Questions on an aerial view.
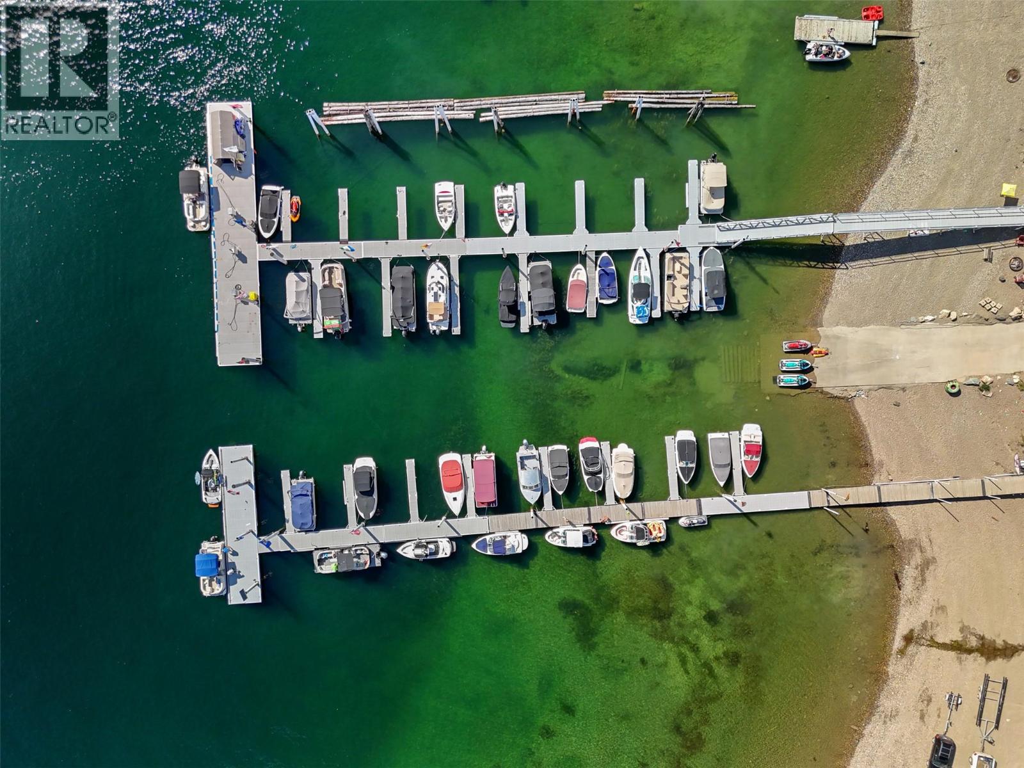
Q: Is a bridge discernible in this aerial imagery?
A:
Yes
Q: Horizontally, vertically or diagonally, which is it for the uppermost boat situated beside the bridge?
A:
vertically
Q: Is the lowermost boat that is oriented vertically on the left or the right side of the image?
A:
left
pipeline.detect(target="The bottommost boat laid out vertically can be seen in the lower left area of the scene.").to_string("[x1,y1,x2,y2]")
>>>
[196,531,228,596]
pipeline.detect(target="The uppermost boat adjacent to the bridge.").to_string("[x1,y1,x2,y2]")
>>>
[699,153,728,225]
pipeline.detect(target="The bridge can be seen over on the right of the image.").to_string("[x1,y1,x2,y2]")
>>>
[715,210,841,245]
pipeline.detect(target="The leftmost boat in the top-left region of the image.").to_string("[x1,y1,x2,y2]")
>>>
[179,157,212,232]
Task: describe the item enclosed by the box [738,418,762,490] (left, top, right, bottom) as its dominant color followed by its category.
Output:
white boat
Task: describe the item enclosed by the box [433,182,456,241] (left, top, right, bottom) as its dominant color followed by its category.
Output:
white boat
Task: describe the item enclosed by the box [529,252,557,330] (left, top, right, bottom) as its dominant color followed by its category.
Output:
gray boat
